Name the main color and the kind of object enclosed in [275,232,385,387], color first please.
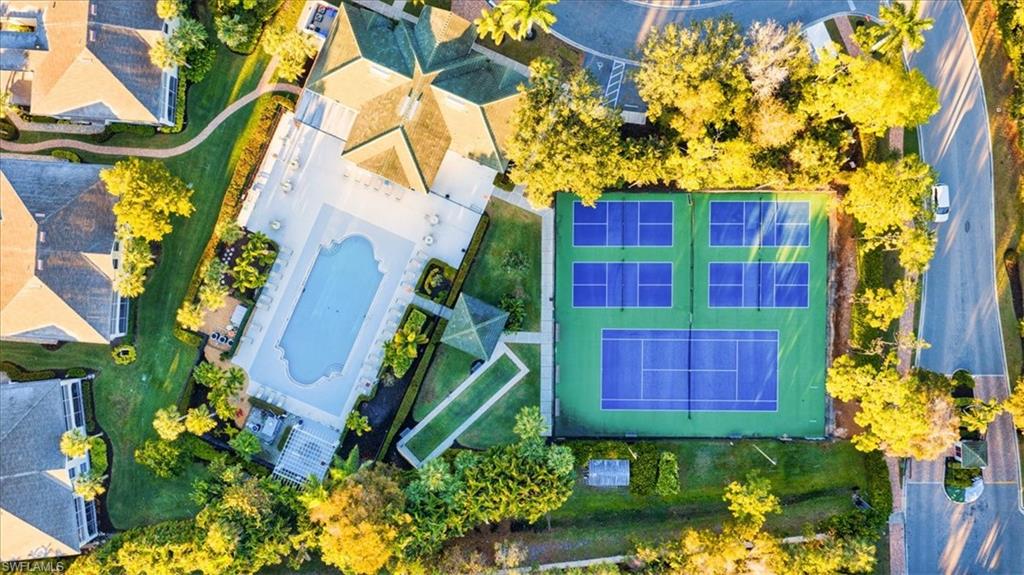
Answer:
blue swimming pool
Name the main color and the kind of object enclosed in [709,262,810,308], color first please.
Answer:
blue sports court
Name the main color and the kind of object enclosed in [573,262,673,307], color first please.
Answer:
blue sports court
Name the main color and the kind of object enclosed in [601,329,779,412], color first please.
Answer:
blue tennis court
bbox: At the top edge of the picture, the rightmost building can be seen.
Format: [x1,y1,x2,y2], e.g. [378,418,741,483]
[306,0,527,192]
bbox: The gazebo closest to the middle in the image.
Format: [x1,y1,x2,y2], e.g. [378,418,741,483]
[440,292,509,361]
